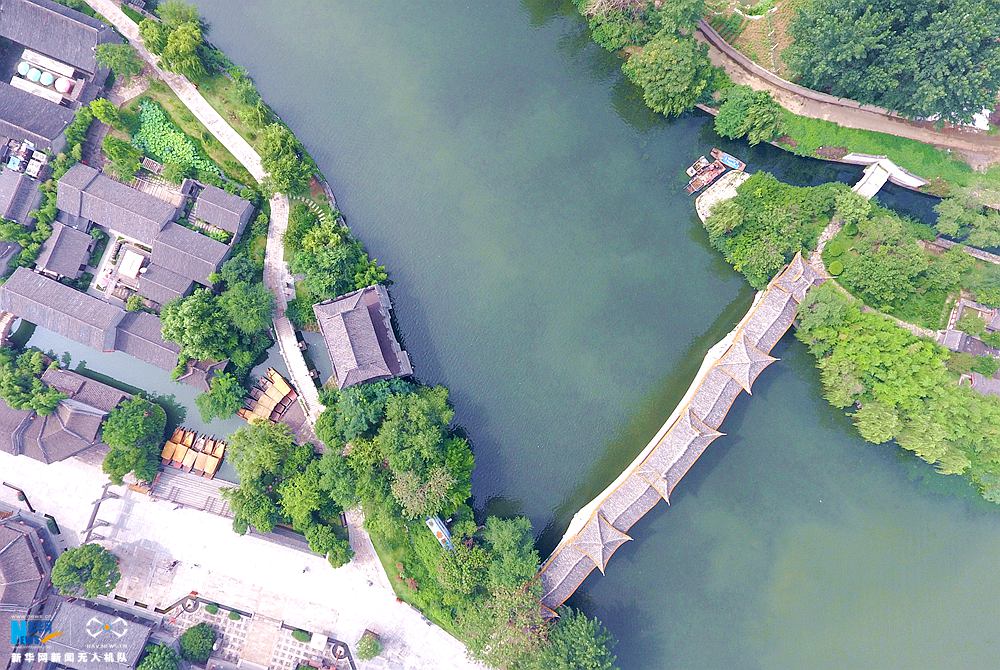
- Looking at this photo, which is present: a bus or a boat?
boat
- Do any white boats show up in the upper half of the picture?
Yes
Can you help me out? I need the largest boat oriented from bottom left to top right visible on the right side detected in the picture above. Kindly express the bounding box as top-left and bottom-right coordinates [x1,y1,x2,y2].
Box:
[682,161,728,198]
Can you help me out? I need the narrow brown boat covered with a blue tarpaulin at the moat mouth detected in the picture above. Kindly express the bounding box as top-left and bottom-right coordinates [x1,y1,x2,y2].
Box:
[708,146,748,171]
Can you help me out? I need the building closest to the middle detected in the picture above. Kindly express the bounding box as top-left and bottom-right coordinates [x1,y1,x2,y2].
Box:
[309,286,418,393]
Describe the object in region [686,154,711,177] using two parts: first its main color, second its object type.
white boat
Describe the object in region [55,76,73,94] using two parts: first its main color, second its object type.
white umbrella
